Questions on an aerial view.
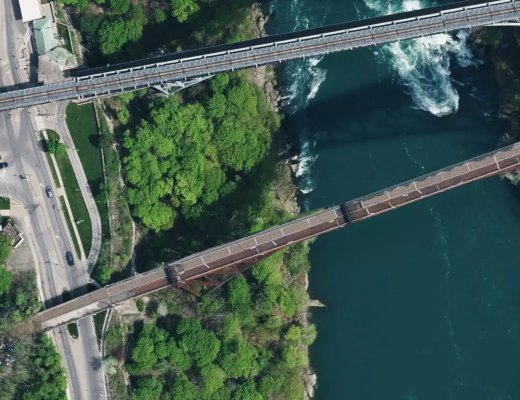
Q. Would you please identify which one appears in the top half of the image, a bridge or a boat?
bridge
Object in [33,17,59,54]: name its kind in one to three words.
building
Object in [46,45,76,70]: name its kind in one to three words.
building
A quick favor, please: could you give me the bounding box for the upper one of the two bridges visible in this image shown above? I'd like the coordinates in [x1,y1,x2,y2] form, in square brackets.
[0,0,520,110]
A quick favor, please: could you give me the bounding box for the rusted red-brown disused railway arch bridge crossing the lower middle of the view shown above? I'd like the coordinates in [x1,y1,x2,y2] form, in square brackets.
[35,140,520,334]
